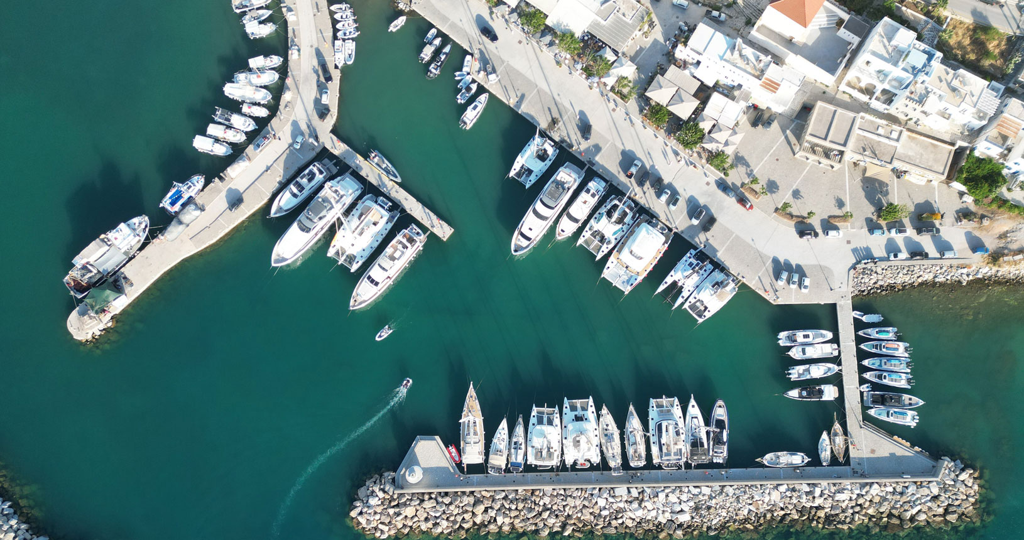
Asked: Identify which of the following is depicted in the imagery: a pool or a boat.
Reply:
boat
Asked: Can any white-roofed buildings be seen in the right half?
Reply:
Yes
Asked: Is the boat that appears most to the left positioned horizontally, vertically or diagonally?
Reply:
diagonally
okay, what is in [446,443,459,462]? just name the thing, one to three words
boat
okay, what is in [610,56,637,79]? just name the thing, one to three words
tent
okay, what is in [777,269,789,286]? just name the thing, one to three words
vehicle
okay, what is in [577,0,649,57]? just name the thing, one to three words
building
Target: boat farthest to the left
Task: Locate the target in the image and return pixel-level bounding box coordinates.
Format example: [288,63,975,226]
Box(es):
[65,216,164,306]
